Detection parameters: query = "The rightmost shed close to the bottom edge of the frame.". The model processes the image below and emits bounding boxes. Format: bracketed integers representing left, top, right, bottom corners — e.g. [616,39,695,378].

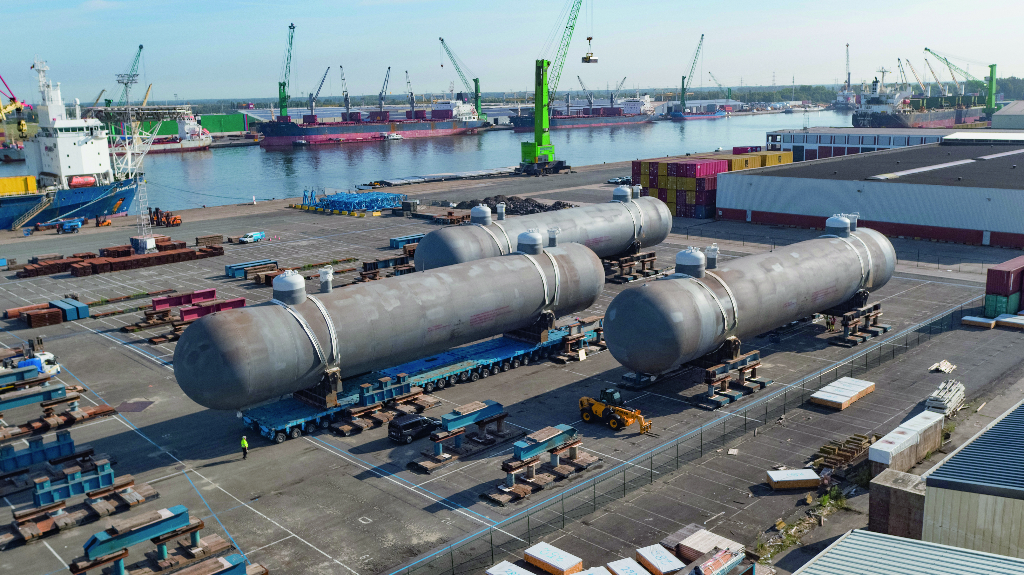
[921,398,1024,575]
